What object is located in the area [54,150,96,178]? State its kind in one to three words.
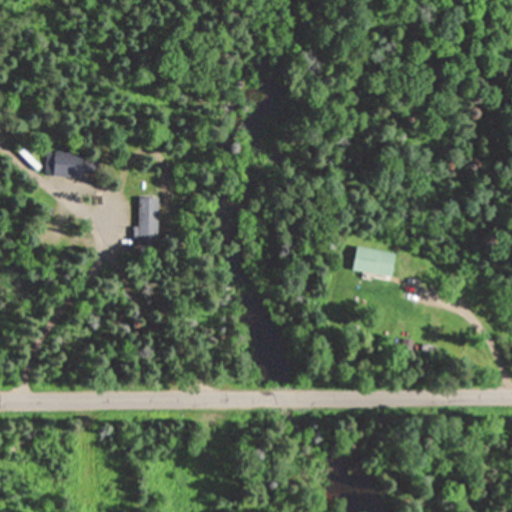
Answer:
house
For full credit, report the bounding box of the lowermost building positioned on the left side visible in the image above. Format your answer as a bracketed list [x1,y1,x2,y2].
[134,196,160,236]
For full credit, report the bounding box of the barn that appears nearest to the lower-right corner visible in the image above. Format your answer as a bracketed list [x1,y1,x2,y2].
[354,246,396,276]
